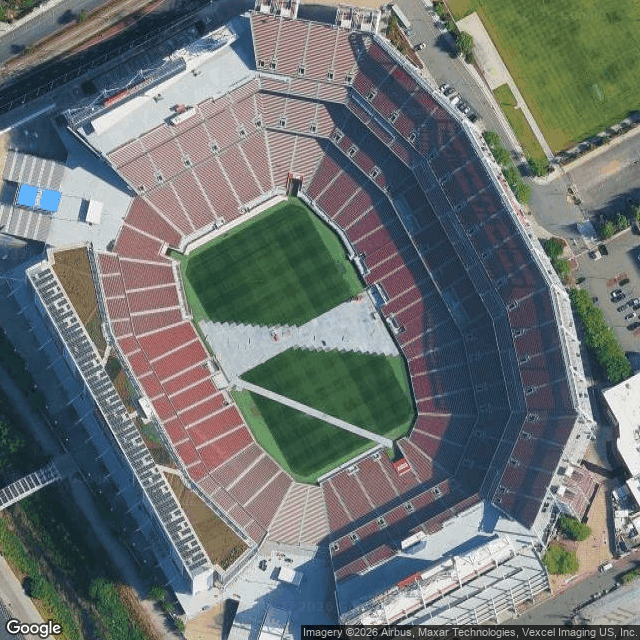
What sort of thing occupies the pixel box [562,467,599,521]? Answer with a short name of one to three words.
building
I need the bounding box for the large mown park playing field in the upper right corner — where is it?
[481,0,640,141]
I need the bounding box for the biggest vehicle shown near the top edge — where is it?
[392,6,413,34]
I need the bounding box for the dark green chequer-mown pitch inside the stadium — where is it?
[188,200,413,476]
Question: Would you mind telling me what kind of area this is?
sports ground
